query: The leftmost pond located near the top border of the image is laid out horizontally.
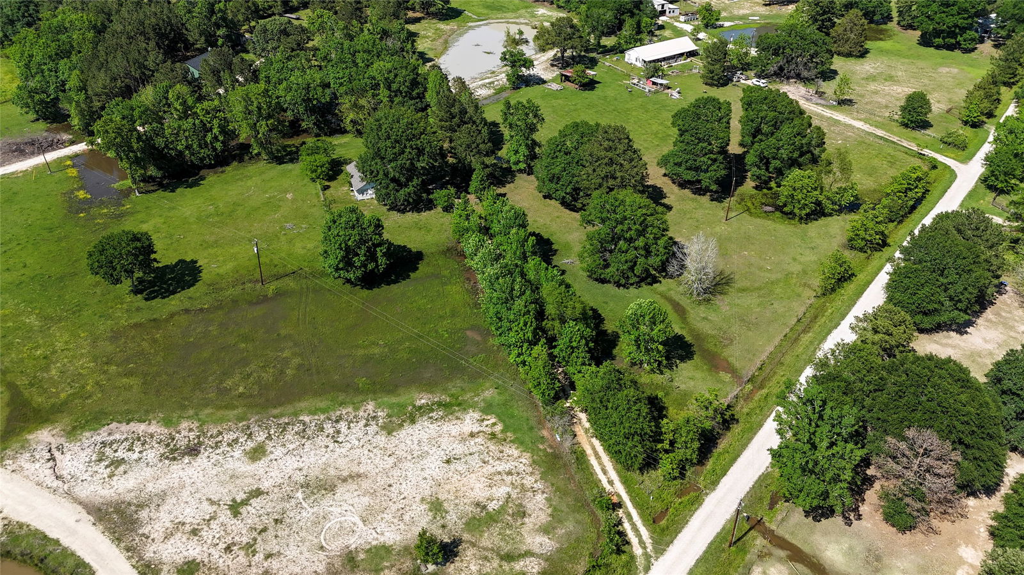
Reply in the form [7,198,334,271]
[443,24,545,80]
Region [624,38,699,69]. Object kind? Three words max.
house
